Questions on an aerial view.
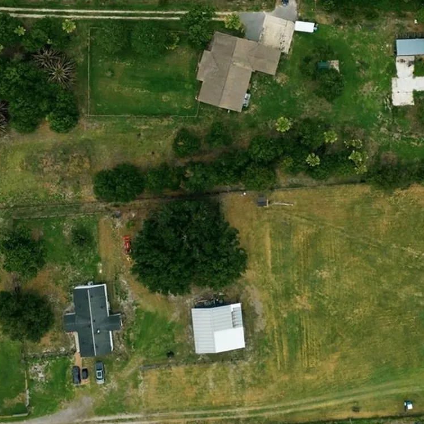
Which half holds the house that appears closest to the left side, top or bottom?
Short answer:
bottom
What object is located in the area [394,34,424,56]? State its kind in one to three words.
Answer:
shed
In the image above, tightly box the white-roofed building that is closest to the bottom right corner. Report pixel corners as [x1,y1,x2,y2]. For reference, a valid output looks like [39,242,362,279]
[191,300,245,353]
